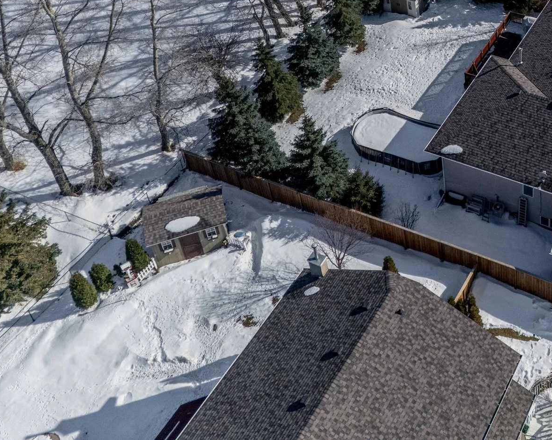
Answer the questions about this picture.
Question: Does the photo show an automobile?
No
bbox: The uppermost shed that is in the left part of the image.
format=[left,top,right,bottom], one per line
[139,183,229,267]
